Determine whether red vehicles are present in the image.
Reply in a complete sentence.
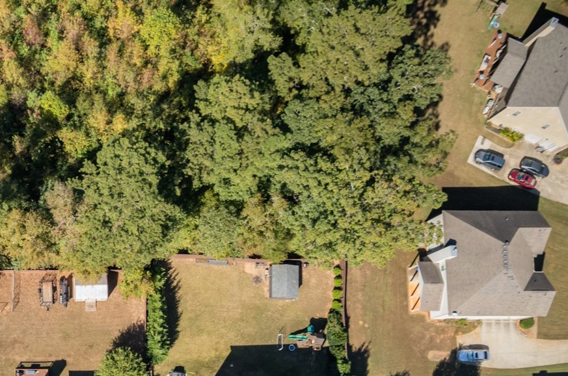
Yes, this view includes a red vehicle.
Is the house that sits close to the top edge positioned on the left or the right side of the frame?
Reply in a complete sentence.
The house that sits close to the top edge is on the right side of the image.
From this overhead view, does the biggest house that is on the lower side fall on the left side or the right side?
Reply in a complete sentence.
It is on the right.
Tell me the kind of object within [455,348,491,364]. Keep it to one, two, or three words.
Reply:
car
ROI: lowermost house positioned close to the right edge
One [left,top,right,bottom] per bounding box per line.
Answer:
[413,210,556,317]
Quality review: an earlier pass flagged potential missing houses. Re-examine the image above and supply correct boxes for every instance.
[413,210,556,317]
[486,13,568,134]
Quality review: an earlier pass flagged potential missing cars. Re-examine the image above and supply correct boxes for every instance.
[472,149,507,171]
[517,158,551,178]
[455,348,491,364]
[506,170,538,189]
